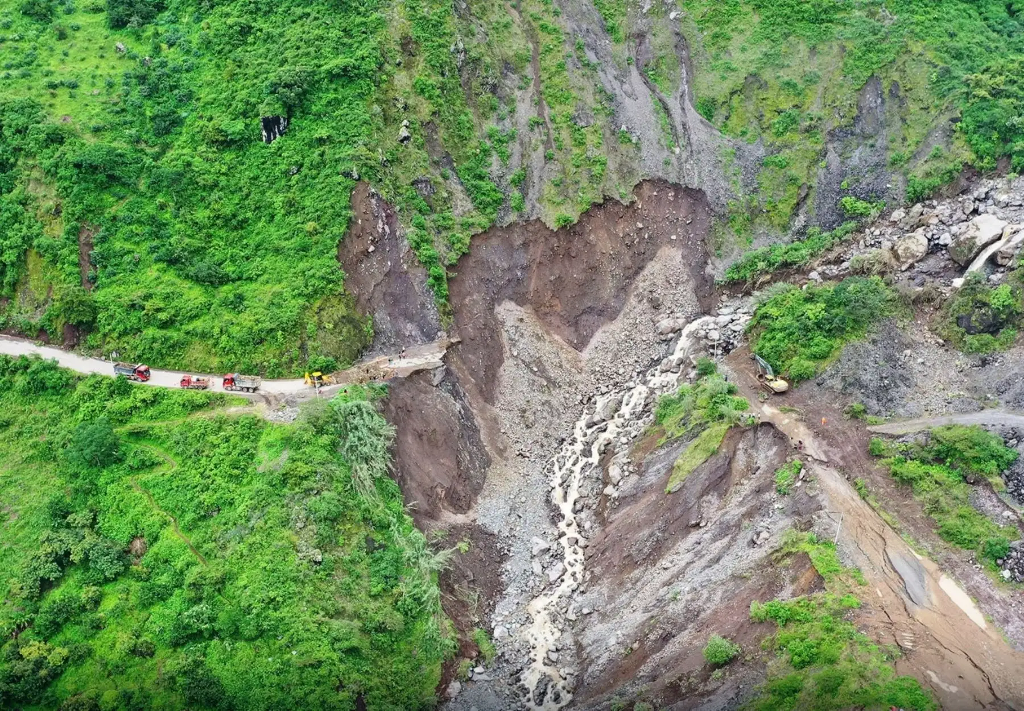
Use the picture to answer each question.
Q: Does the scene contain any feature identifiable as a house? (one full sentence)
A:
No, there is no house in the image.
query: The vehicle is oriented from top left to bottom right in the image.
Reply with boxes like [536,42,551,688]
[754,350,790,394]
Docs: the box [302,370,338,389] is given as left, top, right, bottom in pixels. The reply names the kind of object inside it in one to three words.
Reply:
work vehicle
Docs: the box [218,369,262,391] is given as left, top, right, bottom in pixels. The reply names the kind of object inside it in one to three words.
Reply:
truck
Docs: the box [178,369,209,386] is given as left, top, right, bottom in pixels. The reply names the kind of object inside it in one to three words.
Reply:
vehicle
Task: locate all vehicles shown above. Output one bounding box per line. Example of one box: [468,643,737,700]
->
[178,369,209,386]
[754,350,790,394]
[218,369,262,391]
[302,370,338,389]
[109,360,152,381]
